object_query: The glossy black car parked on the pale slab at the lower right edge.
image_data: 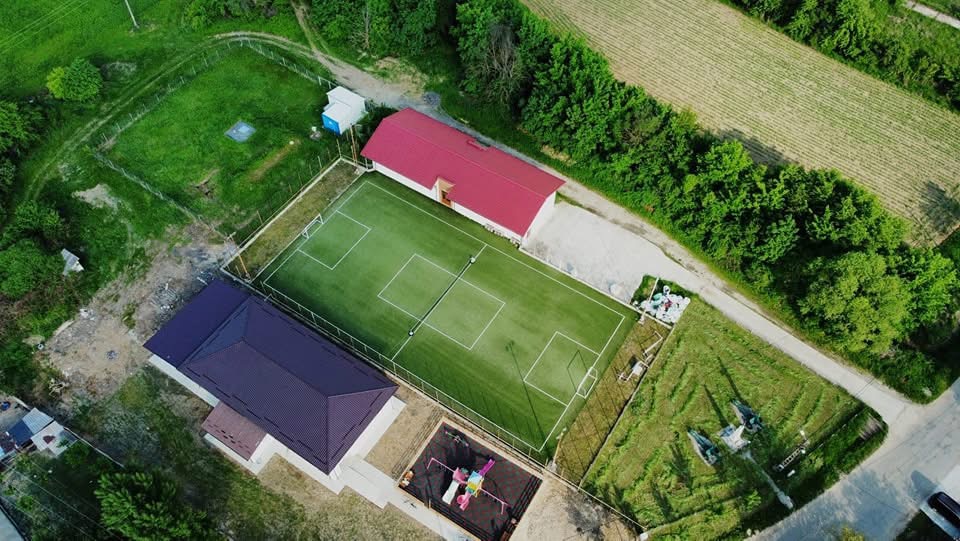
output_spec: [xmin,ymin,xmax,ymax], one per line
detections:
[928,495,960,534]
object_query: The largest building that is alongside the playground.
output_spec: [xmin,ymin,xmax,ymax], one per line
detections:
[144,279,398,477]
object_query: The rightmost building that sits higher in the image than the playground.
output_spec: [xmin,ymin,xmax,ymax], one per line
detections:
[361,109,564,248]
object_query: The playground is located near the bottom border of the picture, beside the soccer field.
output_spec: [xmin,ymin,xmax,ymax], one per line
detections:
[394,417,547,541]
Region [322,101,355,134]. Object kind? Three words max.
building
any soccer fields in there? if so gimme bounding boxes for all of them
[248,170,643,469]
